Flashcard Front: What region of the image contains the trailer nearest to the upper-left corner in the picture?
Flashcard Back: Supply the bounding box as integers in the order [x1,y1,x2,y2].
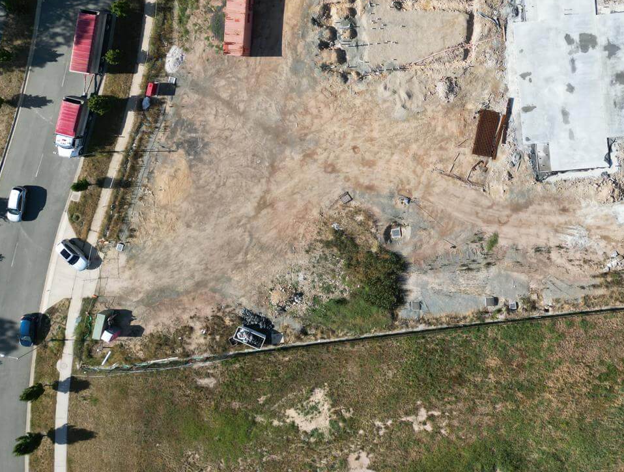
[69,8,111,94]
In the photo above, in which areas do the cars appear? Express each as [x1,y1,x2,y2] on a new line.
[57,238,92,273]
[4,188,26,223]
[19,312,41,346]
